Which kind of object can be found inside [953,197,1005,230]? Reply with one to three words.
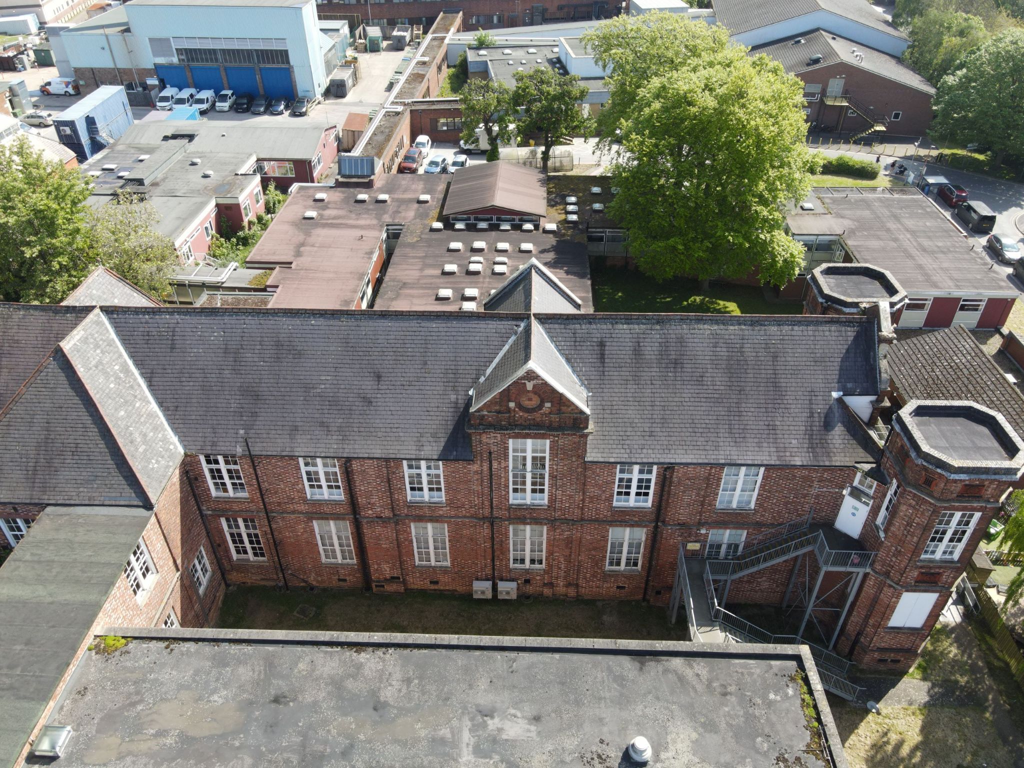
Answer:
van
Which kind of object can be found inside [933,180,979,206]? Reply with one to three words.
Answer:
car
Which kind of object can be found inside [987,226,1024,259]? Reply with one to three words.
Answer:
car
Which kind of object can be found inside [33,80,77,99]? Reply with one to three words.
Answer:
vehicle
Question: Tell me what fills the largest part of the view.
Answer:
buildings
